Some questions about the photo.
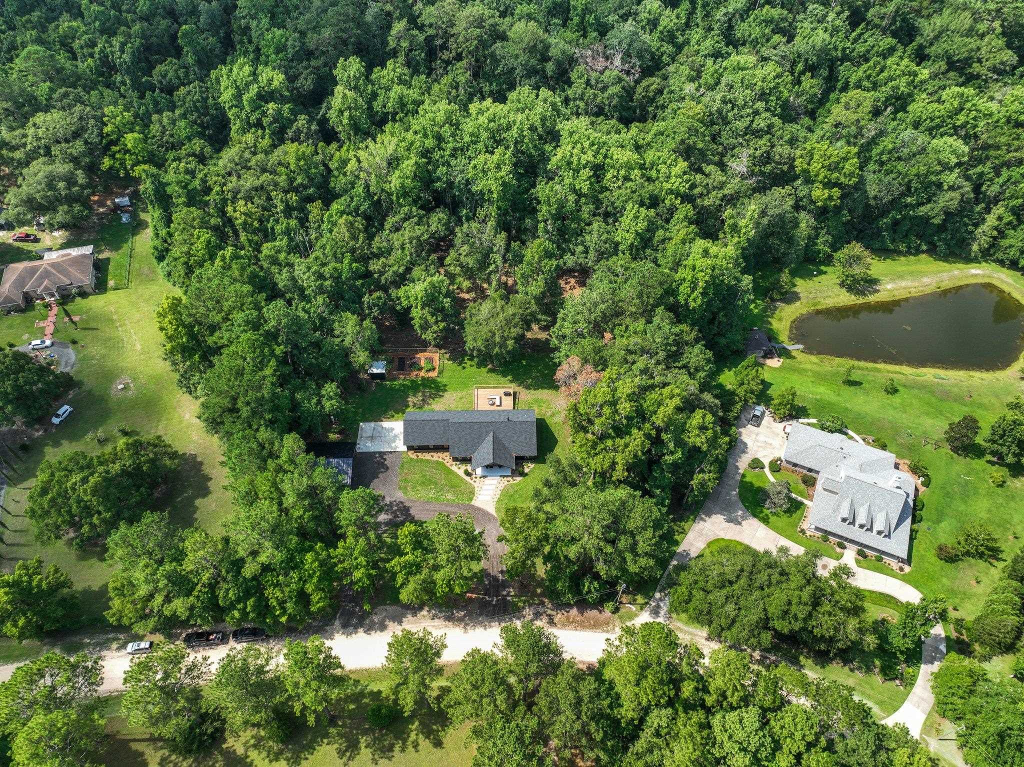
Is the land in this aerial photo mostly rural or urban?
rural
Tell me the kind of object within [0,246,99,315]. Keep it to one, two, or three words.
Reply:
house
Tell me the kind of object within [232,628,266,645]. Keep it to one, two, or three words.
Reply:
car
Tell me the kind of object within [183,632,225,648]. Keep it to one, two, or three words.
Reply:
vehicle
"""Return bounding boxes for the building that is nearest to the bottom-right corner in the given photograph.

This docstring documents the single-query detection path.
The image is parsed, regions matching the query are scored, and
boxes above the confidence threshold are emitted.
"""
[783,421,917,564]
